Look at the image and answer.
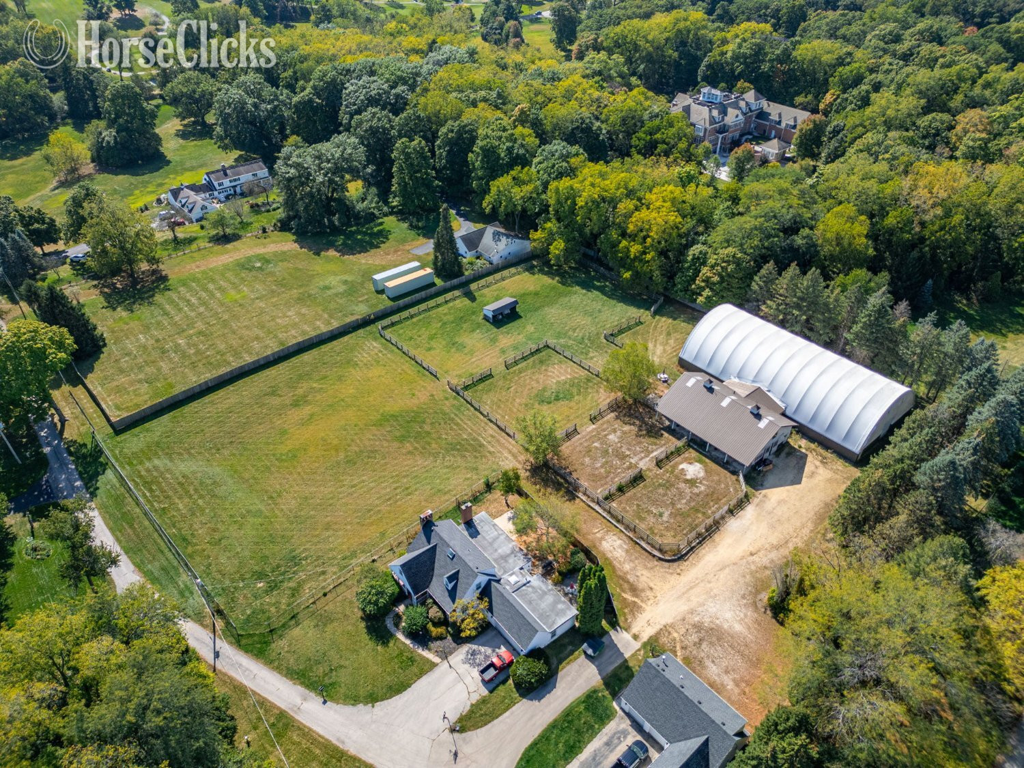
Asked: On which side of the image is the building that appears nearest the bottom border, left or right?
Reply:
right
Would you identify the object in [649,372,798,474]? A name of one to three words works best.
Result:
barn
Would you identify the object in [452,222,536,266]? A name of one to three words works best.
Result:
house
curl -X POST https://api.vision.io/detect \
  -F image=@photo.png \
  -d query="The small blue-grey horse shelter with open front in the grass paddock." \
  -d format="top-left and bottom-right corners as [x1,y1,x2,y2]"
[482,300,519,324]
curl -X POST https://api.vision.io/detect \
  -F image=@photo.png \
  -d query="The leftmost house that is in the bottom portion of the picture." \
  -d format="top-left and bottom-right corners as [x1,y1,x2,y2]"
[389,503,578,657]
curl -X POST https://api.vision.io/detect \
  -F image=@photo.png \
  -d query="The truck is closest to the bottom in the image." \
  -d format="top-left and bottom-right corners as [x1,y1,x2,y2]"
[609,735,656,768]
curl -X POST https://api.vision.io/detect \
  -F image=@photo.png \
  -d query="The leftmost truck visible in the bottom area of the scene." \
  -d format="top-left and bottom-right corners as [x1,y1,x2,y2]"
[476,653,517,687]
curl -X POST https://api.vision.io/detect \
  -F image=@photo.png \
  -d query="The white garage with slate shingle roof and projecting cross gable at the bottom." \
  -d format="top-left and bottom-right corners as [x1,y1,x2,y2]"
[618,651,761,768]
